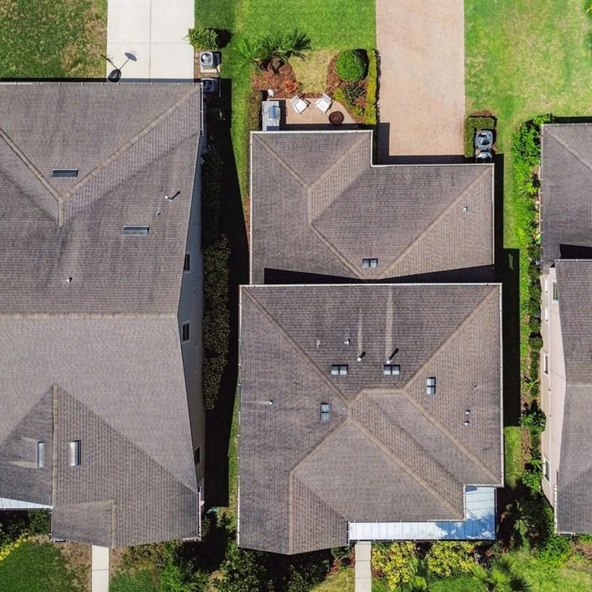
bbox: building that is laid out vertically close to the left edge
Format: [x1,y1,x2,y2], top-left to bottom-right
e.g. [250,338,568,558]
[0,81,205,548]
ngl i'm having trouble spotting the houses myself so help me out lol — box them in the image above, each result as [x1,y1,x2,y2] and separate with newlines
[0,81,205,548]
[235,129,503,554]
[539,123,592,539]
